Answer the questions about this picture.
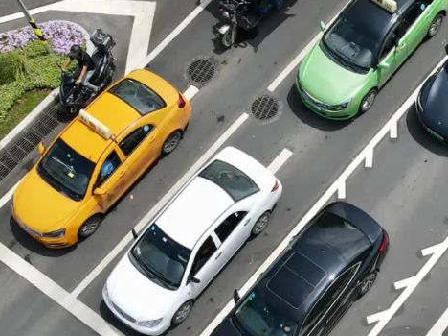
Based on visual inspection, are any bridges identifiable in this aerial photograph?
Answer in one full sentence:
No, the photo shows no bridge.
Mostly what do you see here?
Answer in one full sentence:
The bulk of the photo consists of paved ground.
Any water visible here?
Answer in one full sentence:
No, no water is visible.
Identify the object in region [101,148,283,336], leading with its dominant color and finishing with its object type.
white car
